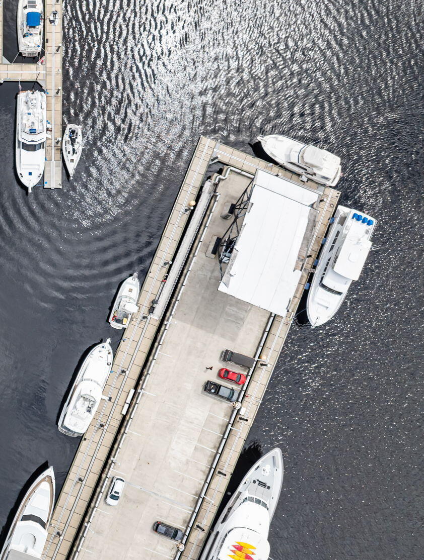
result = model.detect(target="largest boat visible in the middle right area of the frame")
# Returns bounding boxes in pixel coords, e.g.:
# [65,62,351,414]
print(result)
[296,207,386,327]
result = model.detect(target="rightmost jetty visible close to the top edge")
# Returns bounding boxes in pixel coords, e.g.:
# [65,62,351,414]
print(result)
[44,0,62,161]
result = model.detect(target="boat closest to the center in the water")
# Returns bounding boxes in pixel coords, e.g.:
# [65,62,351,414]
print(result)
[111,270,140,329]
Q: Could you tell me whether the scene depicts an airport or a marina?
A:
marina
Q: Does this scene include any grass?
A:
No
